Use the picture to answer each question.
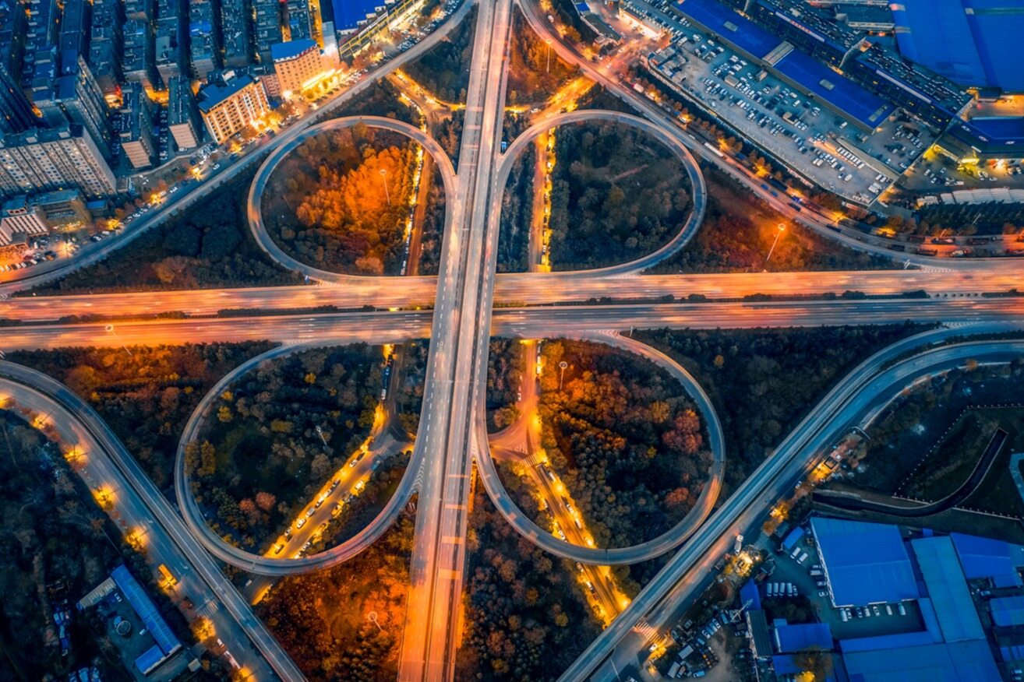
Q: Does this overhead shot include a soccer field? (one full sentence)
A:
No, I find no soccer field anywhere in the image.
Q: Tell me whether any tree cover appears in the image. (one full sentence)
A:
Yes, there's tree cover in this view.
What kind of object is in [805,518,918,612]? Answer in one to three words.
building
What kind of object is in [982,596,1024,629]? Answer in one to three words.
shed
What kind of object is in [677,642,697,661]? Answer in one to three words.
vehicle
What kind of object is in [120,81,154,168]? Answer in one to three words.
building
